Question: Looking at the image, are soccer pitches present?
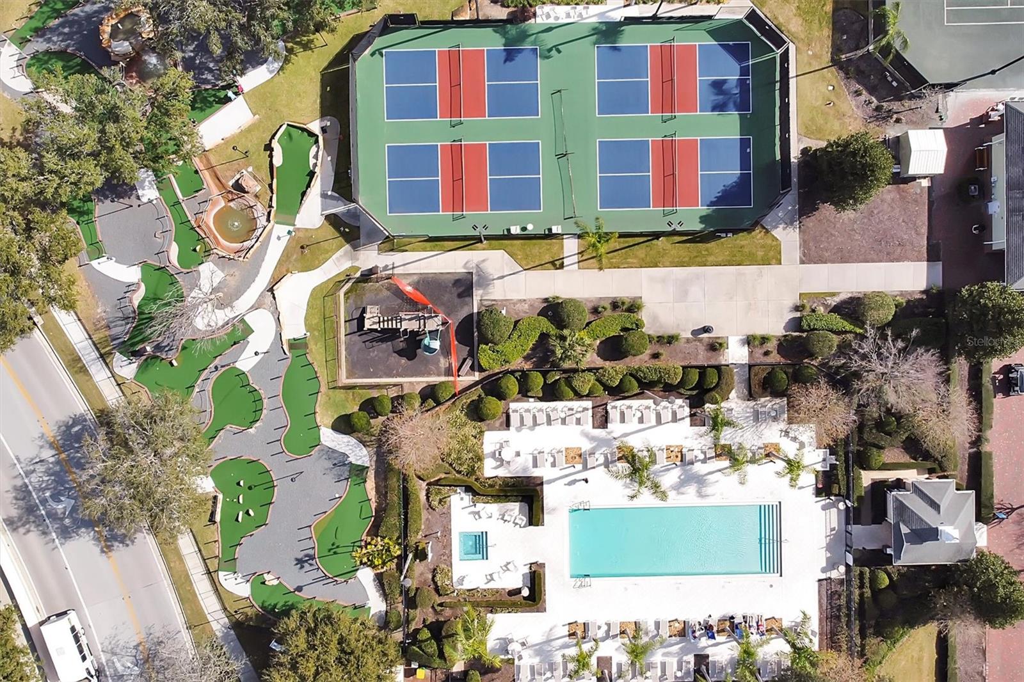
No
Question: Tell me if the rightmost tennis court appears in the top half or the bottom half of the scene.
top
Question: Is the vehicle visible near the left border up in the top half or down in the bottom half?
bottom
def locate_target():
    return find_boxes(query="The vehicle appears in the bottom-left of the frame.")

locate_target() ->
[42,607,113,682]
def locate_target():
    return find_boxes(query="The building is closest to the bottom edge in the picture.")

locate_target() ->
[887,479,978,565]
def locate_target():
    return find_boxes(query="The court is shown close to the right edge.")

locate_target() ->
[885,0,1024,91]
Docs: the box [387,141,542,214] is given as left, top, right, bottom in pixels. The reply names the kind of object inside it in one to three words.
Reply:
sports court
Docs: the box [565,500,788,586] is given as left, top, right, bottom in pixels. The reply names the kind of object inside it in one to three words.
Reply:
swimming pool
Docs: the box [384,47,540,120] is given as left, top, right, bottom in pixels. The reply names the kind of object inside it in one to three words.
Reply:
sports court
